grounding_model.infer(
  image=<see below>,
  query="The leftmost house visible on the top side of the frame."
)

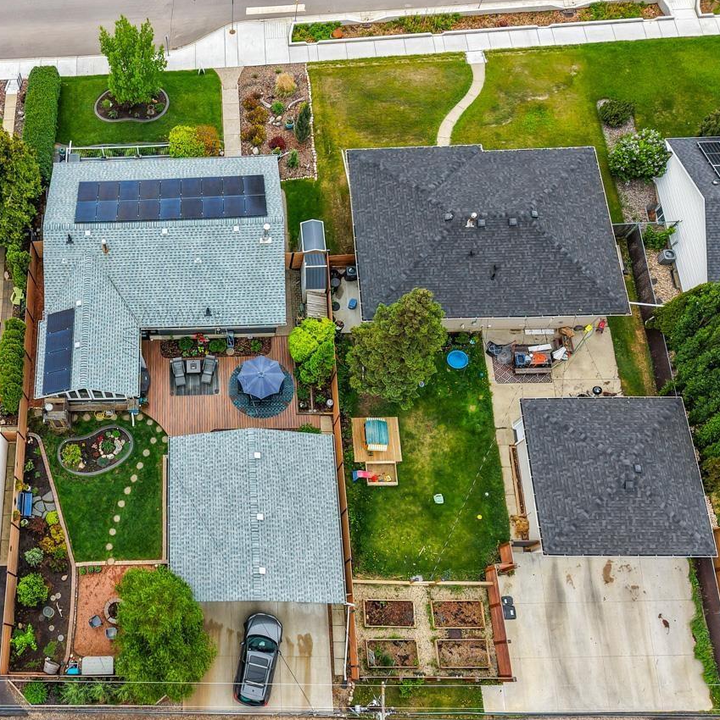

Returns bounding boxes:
[31,154,287,407]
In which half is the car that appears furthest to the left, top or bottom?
bottom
